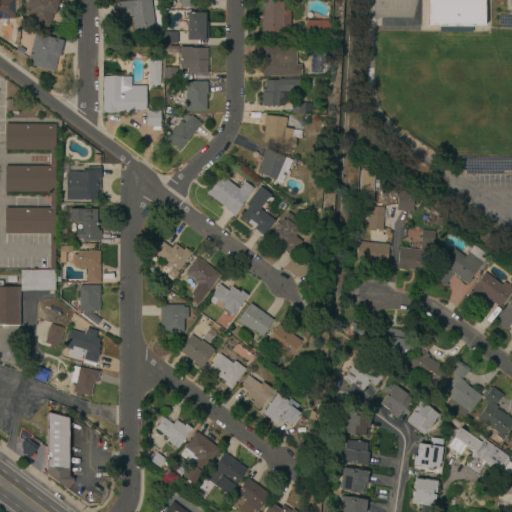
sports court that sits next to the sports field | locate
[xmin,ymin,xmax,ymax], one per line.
[375,0,422,31]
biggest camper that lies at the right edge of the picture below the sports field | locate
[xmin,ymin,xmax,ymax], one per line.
[487,306,502,324]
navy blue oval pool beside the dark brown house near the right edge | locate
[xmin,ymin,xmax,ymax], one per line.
[489,265,509,282]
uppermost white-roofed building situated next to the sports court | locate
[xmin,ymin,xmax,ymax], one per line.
[429,0,488,31]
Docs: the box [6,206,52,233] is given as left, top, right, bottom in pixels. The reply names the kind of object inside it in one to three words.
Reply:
building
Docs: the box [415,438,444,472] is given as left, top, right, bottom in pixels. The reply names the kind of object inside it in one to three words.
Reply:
house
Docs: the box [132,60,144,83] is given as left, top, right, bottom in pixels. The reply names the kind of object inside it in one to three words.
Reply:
swimming pool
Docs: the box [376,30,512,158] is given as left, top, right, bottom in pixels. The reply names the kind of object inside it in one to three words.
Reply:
sports field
